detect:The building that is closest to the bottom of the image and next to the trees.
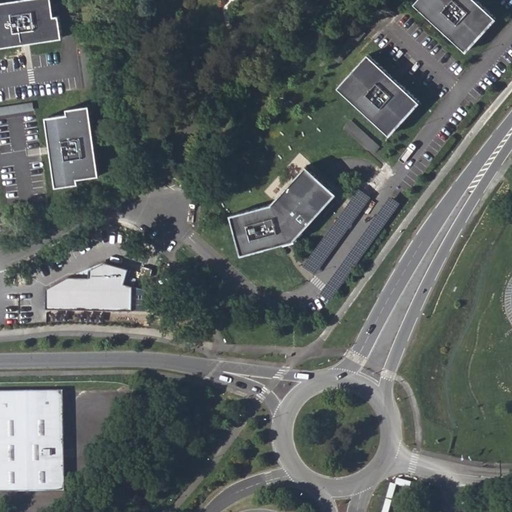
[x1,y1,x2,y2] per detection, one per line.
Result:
[0,389,65,492]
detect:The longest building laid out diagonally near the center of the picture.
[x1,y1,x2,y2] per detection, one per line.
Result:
[228,169,335,258]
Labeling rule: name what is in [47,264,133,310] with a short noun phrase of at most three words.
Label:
building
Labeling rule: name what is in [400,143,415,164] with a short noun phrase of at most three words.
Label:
vehicle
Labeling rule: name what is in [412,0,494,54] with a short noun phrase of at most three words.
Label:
building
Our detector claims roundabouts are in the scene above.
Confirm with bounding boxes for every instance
[272,370,401,499]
